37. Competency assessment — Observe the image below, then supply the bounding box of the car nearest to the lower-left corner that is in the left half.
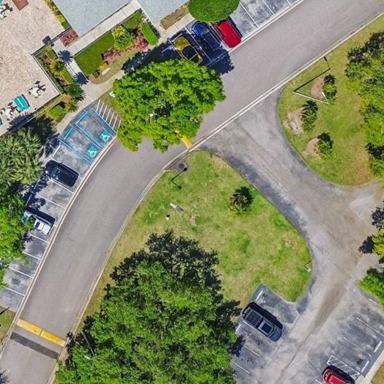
[23,210,58,236]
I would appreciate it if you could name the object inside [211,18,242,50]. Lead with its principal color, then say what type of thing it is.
red car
